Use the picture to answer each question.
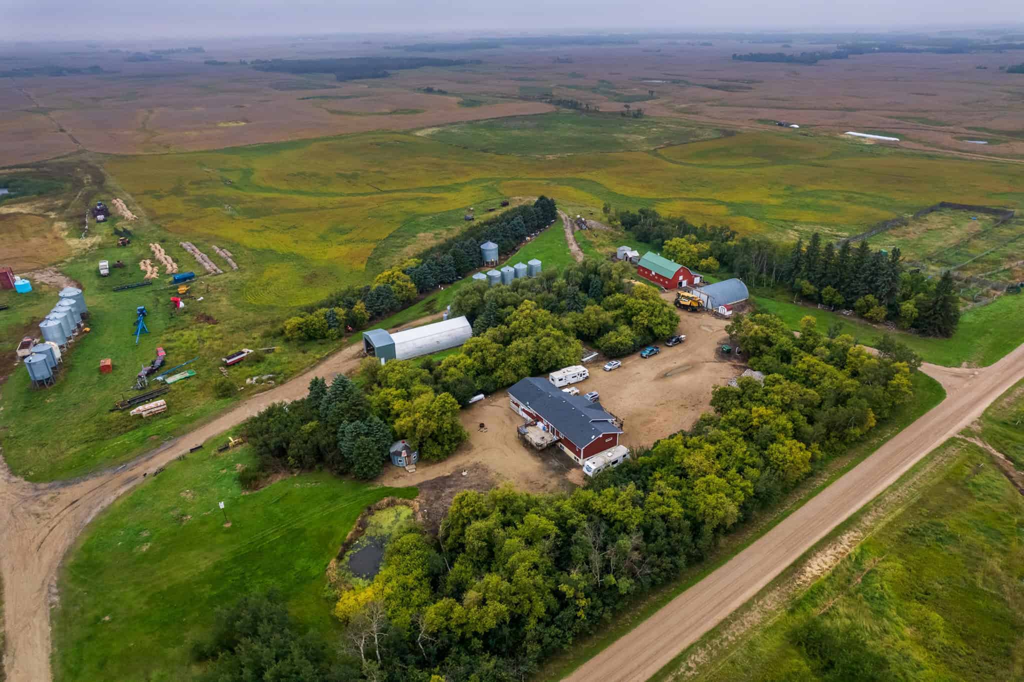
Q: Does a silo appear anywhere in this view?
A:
Yes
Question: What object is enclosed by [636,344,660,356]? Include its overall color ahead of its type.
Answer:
blue vehicle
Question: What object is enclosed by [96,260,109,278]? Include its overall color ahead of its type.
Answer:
white vehicle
